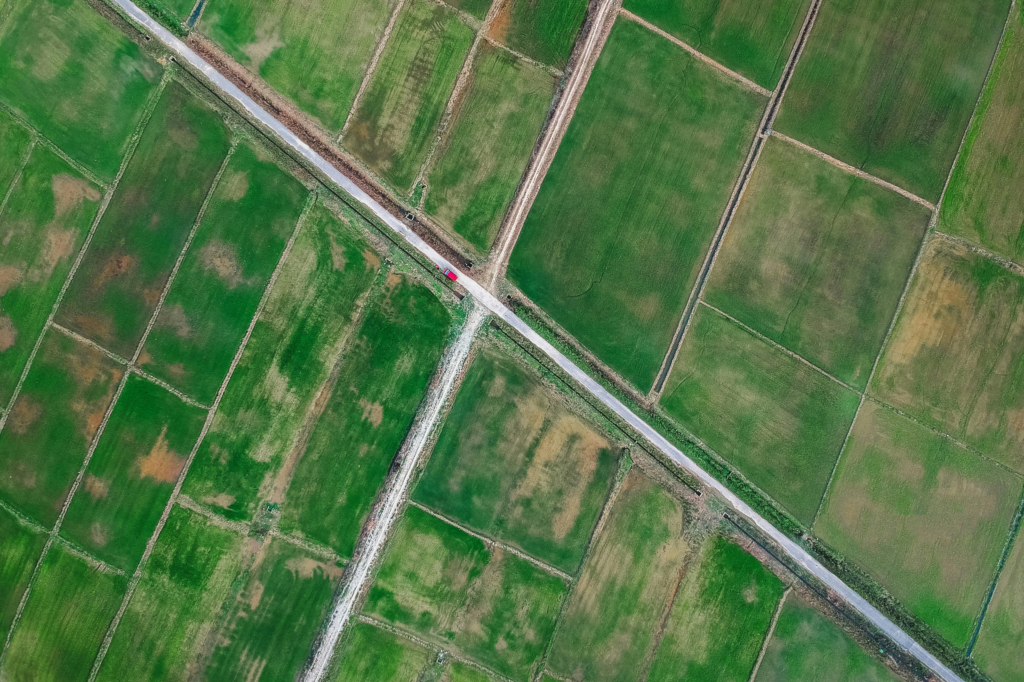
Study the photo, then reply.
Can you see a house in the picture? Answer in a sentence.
No, there is no house in the image.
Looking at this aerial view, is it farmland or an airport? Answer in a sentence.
The area seen from above is farmland.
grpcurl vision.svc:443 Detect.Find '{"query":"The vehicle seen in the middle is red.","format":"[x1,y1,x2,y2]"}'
[442,267,458,281]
